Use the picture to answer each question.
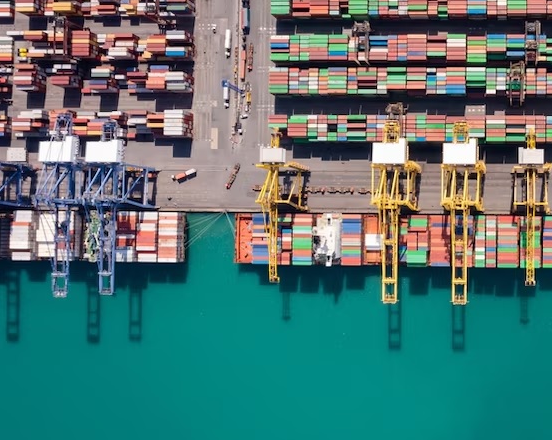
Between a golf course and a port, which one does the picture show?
port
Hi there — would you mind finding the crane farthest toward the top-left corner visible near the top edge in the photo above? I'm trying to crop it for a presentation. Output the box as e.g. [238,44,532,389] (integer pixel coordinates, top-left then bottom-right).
[50,14,89,63]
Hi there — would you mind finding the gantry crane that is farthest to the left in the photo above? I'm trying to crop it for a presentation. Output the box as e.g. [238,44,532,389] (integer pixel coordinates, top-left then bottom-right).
[0,158,39,206]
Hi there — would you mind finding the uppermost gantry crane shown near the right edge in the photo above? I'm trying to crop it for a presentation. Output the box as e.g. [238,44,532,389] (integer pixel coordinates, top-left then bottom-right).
[519,21,540,69]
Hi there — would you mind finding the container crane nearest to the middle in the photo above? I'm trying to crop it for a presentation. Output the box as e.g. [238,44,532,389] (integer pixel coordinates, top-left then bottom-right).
[255,127,314,283]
